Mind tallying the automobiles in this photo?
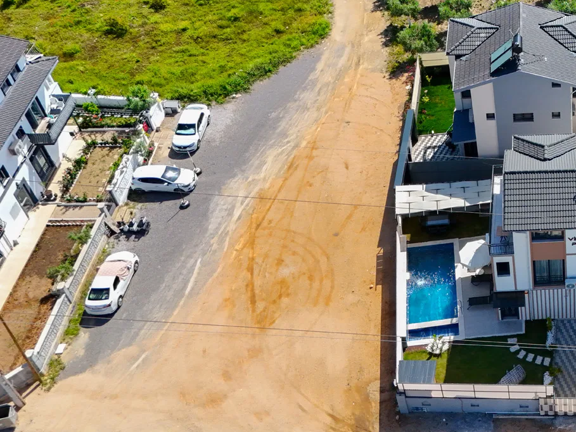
3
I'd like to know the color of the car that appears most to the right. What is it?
white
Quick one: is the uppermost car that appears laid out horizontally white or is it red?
white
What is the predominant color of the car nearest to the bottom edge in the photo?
white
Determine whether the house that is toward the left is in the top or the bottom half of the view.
top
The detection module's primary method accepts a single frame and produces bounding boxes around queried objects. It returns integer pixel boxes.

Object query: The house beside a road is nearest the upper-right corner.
[444,0,576,176]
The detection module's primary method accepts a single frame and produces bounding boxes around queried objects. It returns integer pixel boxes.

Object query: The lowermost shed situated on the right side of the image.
[399,358,438,386]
